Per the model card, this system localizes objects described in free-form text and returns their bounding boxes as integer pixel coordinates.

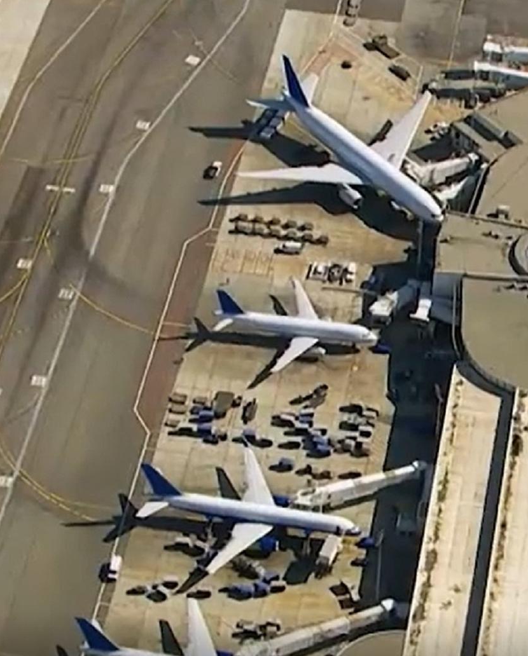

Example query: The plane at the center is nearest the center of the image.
[201,277,377,370]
